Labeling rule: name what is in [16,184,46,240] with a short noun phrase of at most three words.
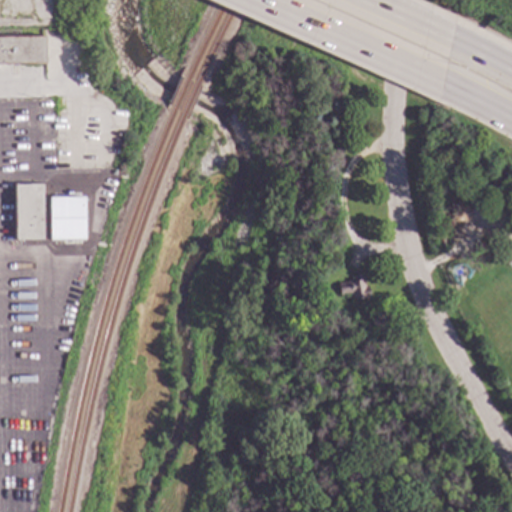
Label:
building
